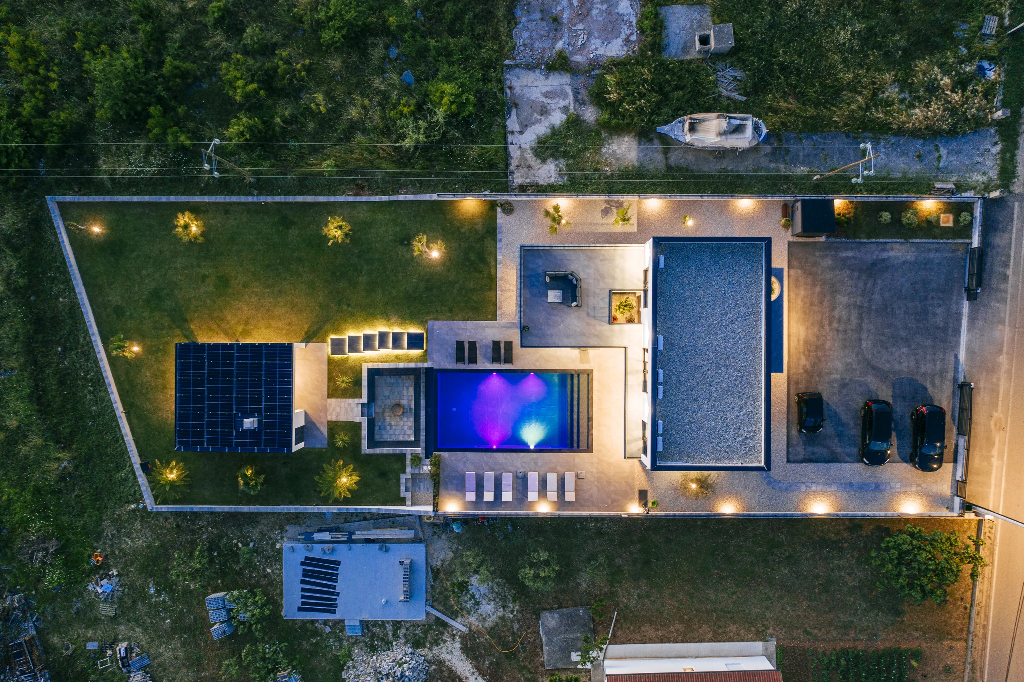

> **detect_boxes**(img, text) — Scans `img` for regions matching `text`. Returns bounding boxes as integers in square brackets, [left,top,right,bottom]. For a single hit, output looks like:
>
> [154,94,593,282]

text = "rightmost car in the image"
[909,405,949,473]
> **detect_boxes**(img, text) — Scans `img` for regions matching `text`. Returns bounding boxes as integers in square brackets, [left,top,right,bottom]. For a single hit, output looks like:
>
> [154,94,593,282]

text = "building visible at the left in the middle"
[173,343,305,452]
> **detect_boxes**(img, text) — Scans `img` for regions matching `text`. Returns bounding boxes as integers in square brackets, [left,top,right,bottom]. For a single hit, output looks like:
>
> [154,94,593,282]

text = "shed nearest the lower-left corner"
[7,640,46,682]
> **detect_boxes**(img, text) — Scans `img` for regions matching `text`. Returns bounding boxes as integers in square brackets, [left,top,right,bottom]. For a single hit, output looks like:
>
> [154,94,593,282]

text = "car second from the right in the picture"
[857,399,894,466]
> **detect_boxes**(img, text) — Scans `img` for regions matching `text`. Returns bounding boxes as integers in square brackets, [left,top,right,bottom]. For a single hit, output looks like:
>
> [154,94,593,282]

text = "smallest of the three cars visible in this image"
[795,393,828,433]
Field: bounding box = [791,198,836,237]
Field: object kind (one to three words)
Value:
shed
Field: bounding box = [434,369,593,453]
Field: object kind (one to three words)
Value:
swimming pool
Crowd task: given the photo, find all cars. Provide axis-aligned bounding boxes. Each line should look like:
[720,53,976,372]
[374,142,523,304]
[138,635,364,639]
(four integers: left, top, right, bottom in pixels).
[795,393,828,433]
[909,405,949,473]
[857,399,894,466]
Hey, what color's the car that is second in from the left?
black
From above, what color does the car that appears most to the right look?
black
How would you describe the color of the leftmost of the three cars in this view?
black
